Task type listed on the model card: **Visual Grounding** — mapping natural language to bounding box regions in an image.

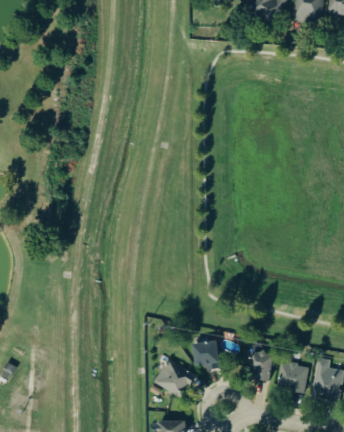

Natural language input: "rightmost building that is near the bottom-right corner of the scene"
[315,359,344,394]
